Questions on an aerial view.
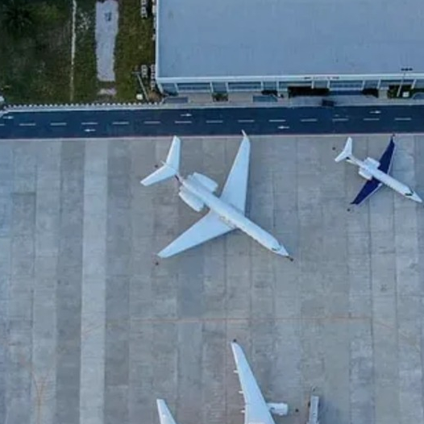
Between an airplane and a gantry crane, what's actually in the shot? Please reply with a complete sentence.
The one in the frame is an airplane.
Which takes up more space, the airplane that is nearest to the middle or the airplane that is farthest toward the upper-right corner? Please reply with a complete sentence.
The airplane that is farthest toward the upper-right corner is smaller than the airplane that is nearest to the middle.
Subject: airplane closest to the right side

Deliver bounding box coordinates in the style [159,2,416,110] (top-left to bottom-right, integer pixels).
[335,138,422,204]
